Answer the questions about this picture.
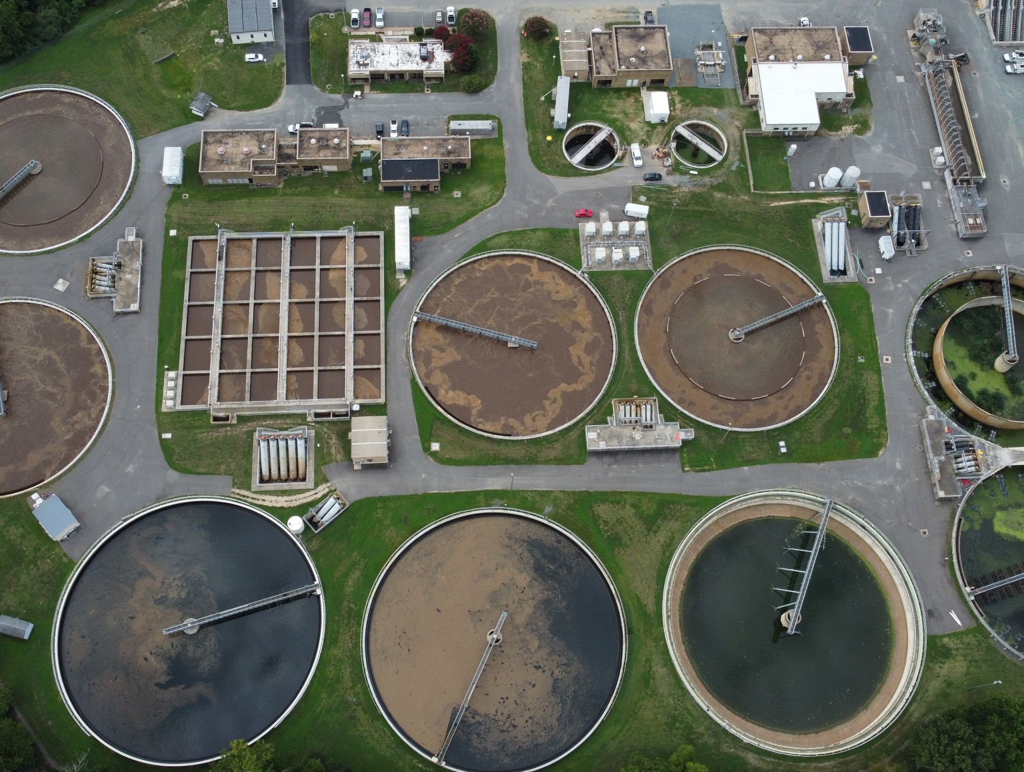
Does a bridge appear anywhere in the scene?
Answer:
Yes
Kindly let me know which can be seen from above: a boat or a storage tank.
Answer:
storage tank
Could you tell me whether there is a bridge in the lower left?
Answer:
Yes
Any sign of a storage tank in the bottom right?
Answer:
Yes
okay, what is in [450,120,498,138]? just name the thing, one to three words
house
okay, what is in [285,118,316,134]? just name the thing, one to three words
vehicle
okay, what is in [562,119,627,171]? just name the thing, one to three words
storage tank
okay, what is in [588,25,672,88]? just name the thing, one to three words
building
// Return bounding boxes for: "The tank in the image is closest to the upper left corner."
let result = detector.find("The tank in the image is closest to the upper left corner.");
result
[0,83,137,255]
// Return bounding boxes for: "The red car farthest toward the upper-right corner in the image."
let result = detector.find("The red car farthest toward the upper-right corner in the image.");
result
[574,207,594,219]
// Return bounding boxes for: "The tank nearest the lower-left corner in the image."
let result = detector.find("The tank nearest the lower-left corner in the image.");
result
[50,494,325,765]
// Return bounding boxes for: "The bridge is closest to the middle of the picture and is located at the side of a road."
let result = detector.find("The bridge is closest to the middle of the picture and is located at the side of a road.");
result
[413,309,539,349]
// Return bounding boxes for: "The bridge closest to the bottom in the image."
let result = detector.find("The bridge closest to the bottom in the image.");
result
[437,611,507,762]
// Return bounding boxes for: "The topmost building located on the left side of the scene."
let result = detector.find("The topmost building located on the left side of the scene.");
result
[230,0,282,44]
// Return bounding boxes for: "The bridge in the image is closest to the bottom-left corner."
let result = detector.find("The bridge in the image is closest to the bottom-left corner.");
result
[162,584,322,635]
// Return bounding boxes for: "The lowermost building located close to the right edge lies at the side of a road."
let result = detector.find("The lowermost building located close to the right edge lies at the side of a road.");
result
[914,404,1024,500]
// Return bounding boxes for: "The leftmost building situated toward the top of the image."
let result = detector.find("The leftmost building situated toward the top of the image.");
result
[84,228,152,315]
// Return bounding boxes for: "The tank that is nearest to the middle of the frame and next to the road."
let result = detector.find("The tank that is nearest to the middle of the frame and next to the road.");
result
[409,247,617,439]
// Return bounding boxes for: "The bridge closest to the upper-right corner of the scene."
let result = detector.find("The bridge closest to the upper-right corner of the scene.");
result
[998,264,1021,366]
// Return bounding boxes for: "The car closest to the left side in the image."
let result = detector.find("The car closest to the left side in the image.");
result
[242,51,266,64]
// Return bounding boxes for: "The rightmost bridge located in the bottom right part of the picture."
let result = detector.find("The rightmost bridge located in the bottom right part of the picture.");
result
[963,568,1024,598]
